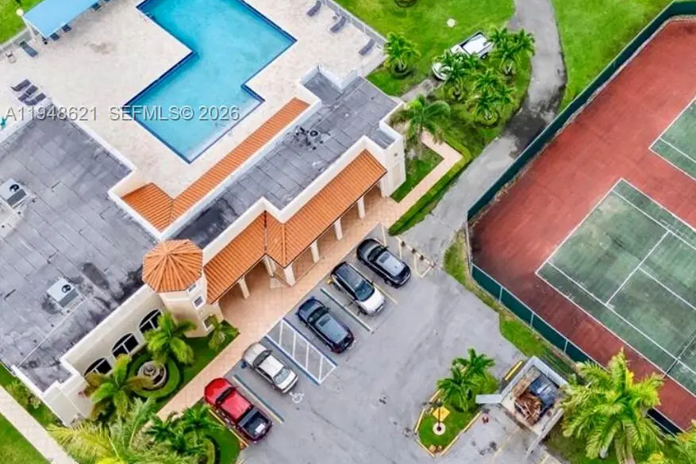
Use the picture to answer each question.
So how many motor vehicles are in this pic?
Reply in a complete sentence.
The picture shows 6 motor vehicles.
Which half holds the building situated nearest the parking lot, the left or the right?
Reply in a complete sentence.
The building situated nearest the parking lot appears in the left half of the scene.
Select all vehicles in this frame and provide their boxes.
[353,235,419,291]
[428,28,495,78]
[238,339,305,401]
[324,261,388,318]
[201,373,279,449]
[293,298,360,359]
